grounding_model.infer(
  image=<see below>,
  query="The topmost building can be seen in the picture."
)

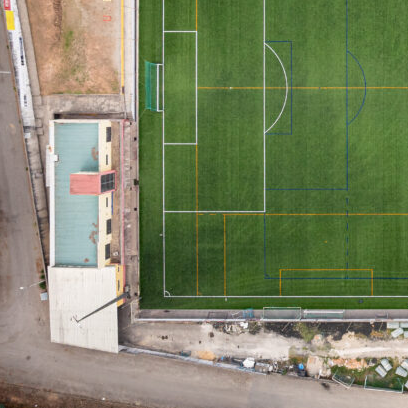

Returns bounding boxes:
[47,119,127,268]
